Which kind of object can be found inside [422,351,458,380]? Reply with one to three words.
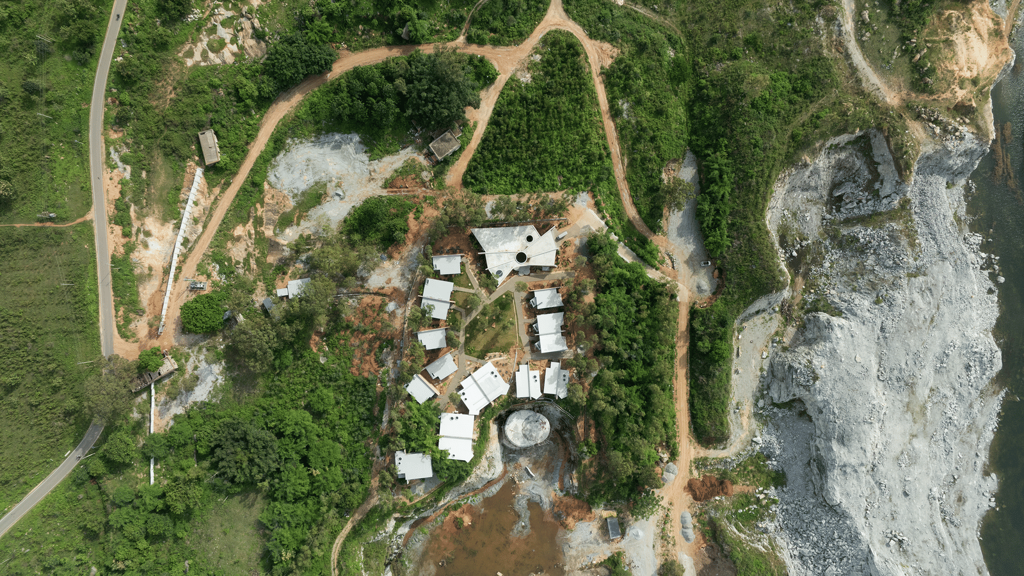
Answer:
house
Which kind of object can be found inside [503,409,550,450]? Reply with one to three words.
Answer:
building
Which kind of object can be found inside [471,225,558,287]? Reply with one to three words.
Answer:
building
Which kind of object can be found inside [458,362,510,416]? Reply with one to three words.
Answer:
house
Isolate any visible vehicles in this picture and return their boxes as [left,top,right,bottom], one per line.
[701,261,711,266]
[556,232,567,240]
